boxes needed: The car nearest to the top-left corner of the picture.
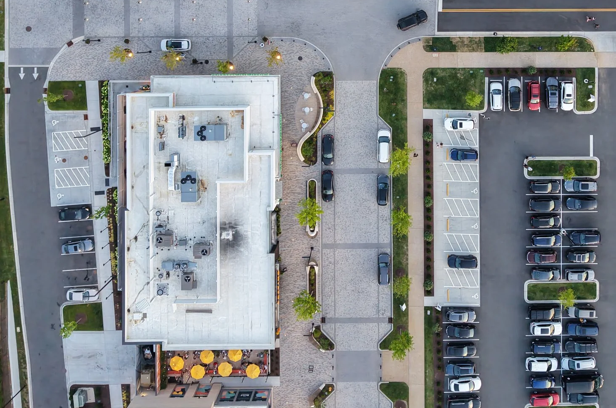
[161,38,192,52]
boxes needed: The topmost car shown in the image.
[395,9,429,31]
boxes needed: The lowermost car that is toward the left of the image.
[66,287,100,303]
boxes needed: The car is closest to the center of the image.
[320,170,335,202]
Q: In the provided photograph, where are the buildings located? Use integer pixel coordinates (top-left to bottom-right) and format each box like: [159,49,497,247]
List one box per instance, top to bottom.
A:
[122,73,285,351]
[128,385,274,408]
